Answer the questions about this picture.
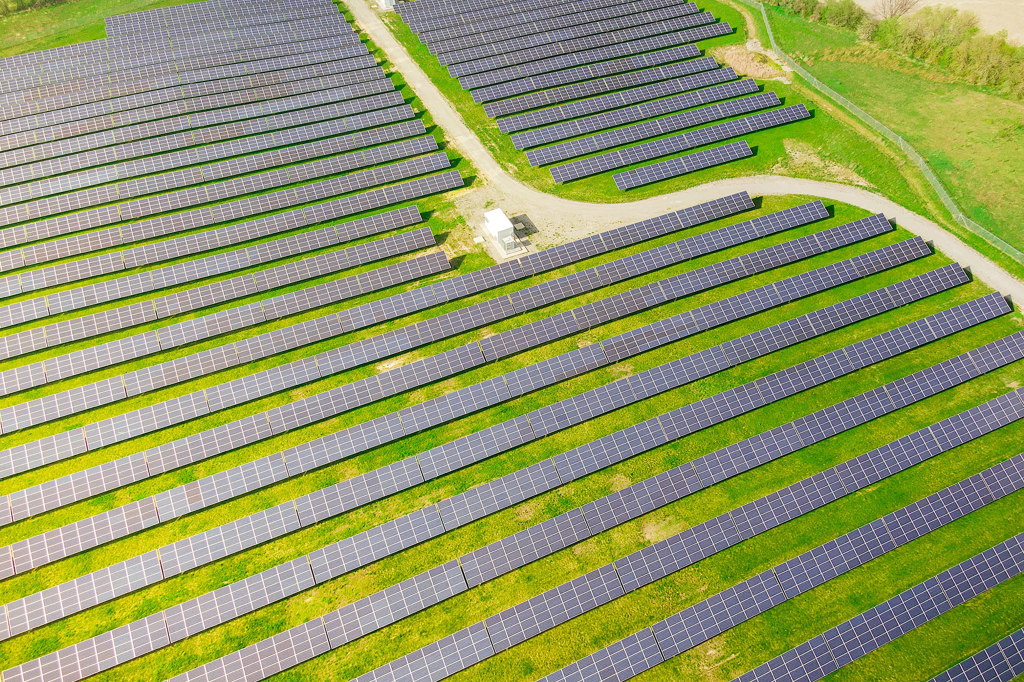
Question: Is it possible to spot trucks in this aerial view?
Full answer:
No, the picture doesn't show any truck.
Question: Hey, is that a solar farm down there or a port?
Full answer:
It's a solar farm.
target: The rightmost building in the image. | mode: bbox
[486,209,516,242]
